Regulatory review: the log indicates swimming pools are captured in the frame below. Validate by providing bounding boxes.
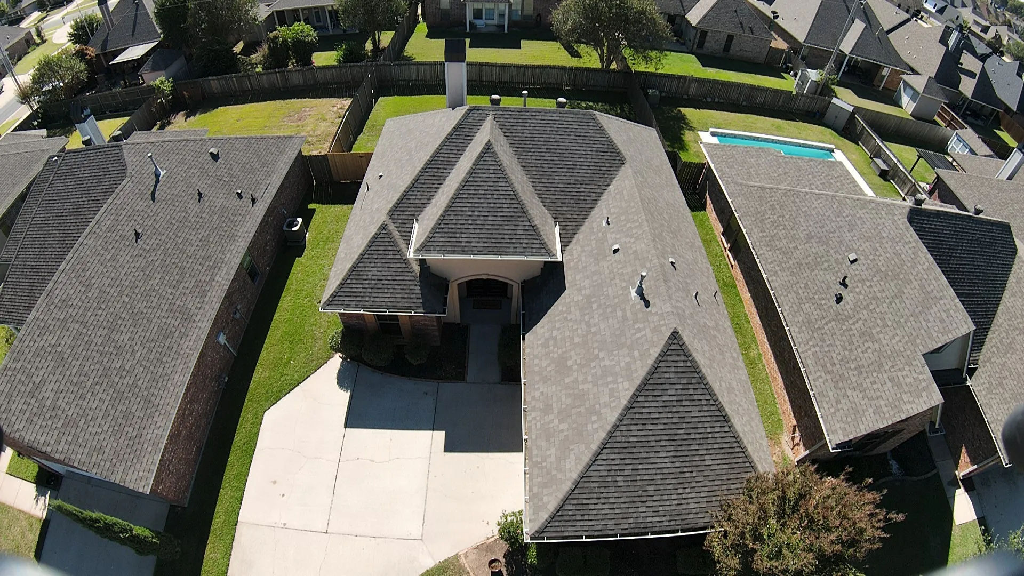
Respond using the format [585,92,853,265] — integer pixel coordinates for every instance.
[687,126,881,199]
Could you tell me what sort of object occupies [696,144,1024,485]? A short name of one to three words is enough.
house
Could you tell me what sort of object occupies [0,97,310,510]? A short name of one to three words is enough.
house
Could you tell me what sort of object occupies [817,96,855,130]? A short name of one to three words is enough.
shed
